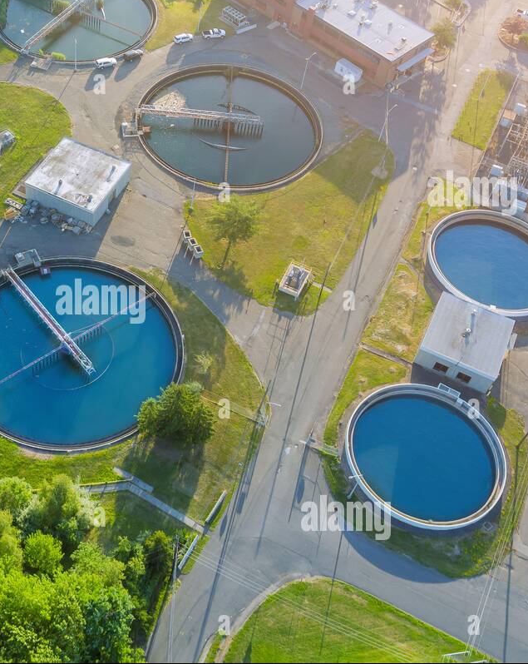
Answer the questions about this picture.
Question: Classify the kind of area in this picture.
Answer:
industrial area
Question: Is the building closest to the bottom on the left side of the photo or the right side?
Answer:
right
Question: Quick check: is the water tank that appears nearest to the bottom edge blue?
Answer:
Yes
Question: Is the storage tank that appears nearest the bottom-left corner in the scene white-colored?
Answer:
No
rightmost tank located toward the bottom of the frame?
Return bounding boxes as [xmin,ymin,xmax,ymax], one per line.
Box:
[339,379,509,538]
